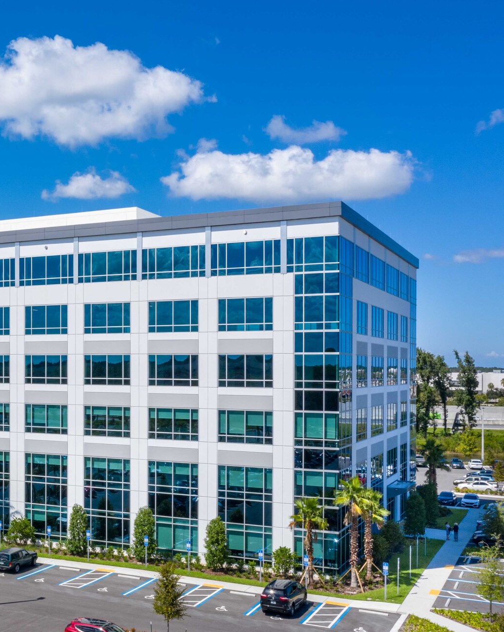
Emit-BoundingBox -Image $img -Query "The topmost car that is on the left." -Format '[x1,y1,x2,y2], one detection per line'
[0,546,37,572]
